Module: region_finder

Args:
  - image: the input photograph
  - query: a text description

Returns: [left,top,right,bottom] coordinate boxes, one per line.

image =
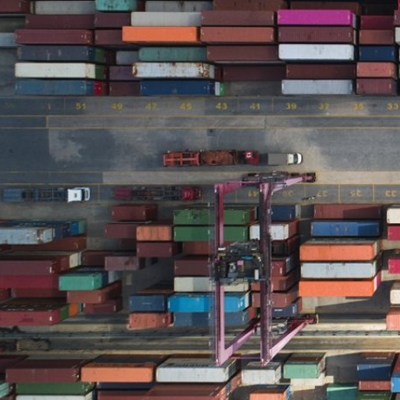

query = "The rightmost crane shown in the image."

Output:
[210,166,314,366]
